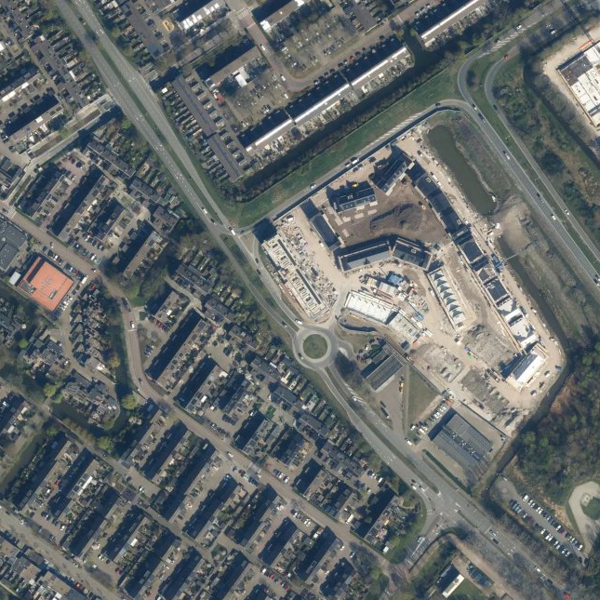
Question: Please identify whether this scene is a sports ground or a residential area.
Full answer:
The area seen from above is a residential area.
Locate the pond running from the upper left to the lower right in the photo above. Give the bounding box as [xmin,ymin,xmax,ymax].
[428,126,498,215]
